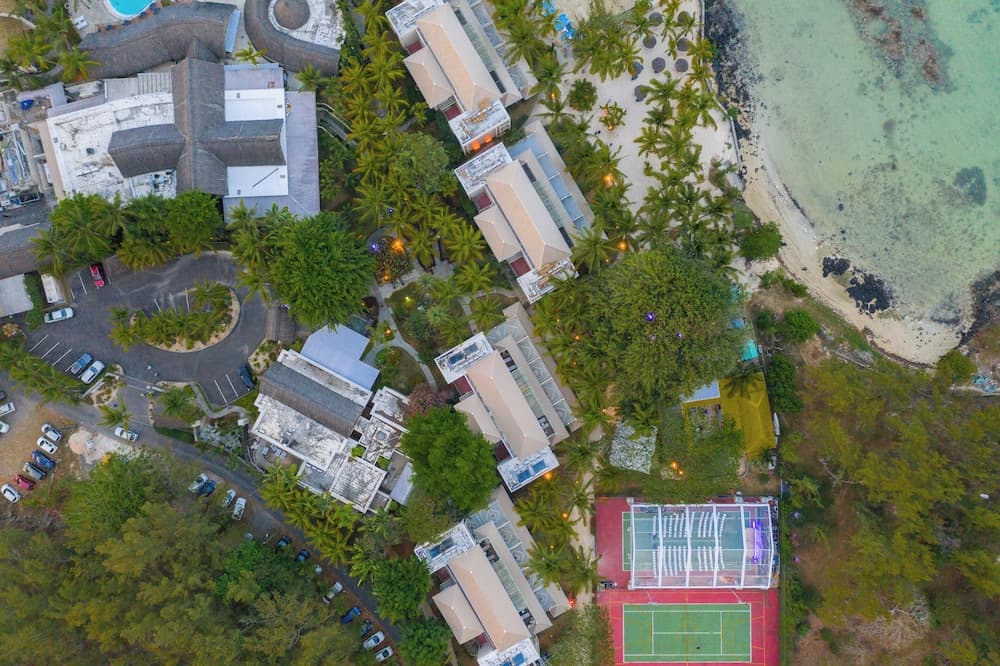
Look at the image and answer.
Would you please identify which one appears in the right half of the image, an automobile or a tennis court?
tennis court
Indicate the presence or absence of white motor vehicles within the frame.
Yes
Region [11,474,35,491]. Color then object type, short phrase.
red car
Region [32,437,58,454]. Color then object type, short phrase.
white car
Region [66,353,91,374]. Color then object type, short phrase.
blue car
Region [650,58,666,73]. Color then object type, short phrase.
gray umbrella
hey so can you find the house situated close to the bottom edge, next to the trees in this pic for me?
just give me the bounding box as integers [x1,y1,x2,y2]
[415,482,574,666]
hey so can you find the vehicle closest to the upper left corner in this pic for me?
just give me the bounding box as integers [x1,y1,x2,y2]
[86,262,104,286]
